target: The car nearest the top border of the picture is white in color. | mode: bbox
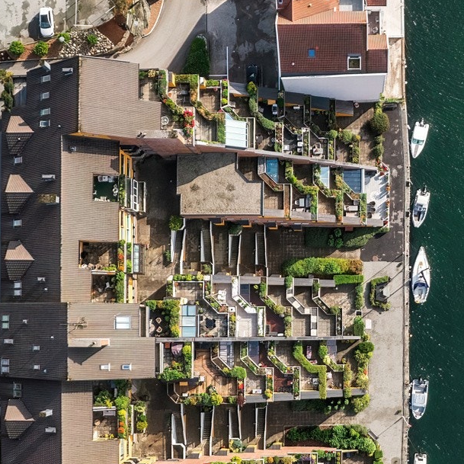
[38,5,56,40]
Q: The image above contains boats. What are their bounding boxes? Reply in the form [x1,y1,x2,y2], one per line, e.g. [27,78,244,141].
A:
[412,245,429,303]
[413,184,431,227]
[410,375,427,420]
[410,117,429,158]
[413,447,426,464]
